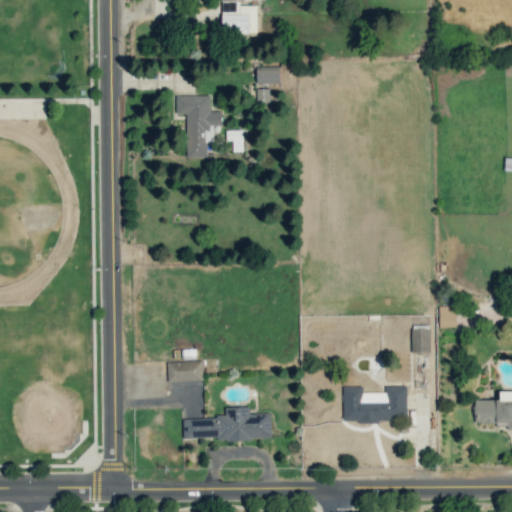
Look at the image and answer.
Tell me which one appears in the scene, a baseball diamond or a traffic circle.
baseball diamond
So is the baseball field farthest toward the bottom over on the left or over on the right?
left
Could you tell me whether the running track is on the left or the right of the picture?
left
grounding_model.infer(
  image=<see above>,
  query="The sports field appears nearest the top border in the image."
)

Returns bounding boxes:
[0,138,62,288]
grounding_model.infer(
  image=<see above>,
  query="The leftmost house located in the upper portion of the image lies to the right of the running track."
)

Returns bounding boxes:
[176,96,222,158]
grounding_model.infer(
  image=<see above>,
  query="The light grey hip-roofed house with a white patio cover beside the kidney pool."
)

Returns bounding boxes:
[476,392,512,427]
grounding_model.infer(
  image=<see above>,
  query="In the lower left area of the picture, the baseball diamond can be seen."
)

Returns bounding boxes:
[12,380,89,458]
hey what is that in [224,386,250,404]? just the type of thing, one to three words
swimming pool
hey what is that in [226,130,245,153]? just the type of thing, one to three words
shed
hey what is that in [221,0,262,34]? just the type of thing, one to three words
house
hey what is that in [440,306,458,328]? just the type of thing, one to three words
shed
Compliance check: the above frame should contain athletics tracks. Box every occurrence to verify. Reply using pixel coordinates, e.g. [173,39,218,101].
[0,119,80,306]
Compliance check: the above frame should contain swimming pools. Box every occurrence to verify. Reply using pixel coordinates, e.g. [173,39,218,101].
[224,386,250,404]
[500,361,512,388]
